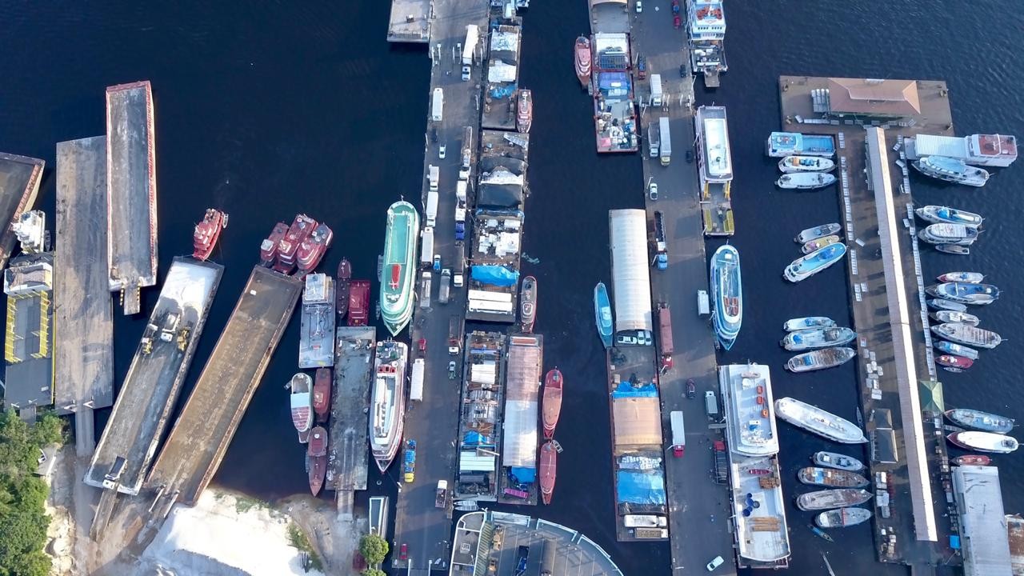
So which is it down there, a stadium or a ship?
ship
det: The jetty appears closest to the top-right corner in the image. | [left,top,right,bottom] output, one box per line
[778,75,955,139]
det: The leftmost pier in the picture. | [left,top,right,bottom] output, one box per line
[367,497,388,541]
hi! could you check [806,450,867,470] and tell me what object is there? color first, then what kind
blue boat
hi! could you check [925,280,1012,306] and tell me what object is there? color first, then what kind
blue boat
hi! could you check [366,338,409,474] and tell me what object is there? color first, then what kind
white ship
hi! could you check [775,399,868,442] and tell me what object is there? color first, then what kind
white boat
